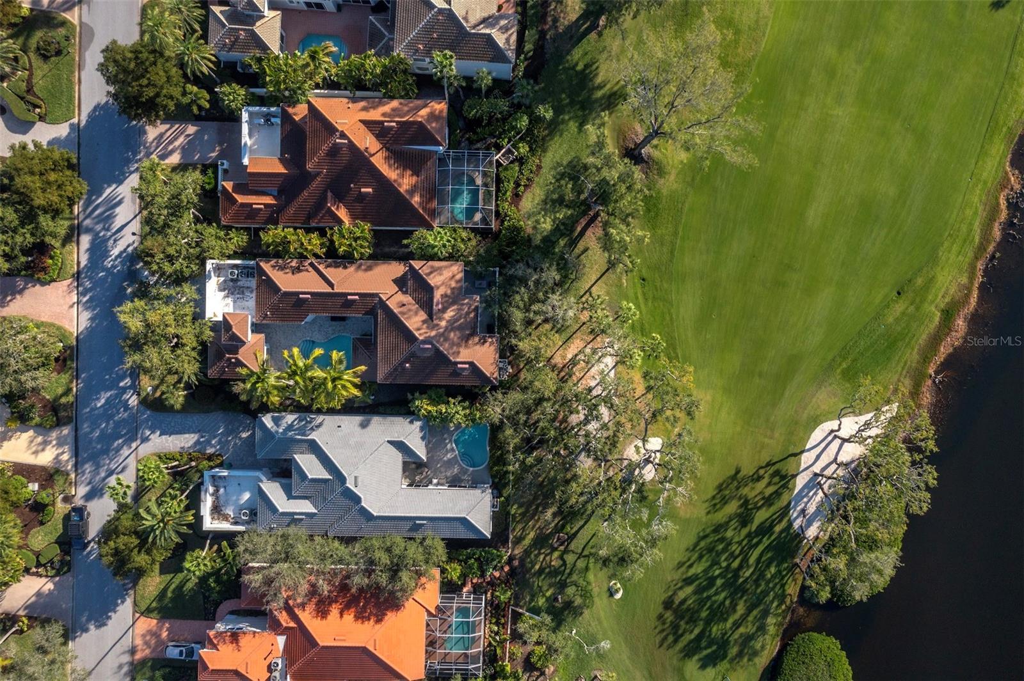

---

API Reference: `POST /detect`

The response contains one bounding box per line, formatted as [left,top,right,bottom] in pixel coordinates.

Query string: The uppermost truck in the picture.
[67,502,94,549]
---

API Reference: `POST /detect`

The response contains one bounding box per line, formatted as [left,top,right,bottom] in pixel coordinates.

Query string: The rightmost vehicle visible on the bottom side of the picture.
[168,640,206,660]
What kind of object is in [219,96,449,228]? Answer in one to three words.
house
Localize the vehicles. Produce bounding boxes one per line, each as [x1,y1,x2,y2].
[168,640,206,660]
[67,502,94,549]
